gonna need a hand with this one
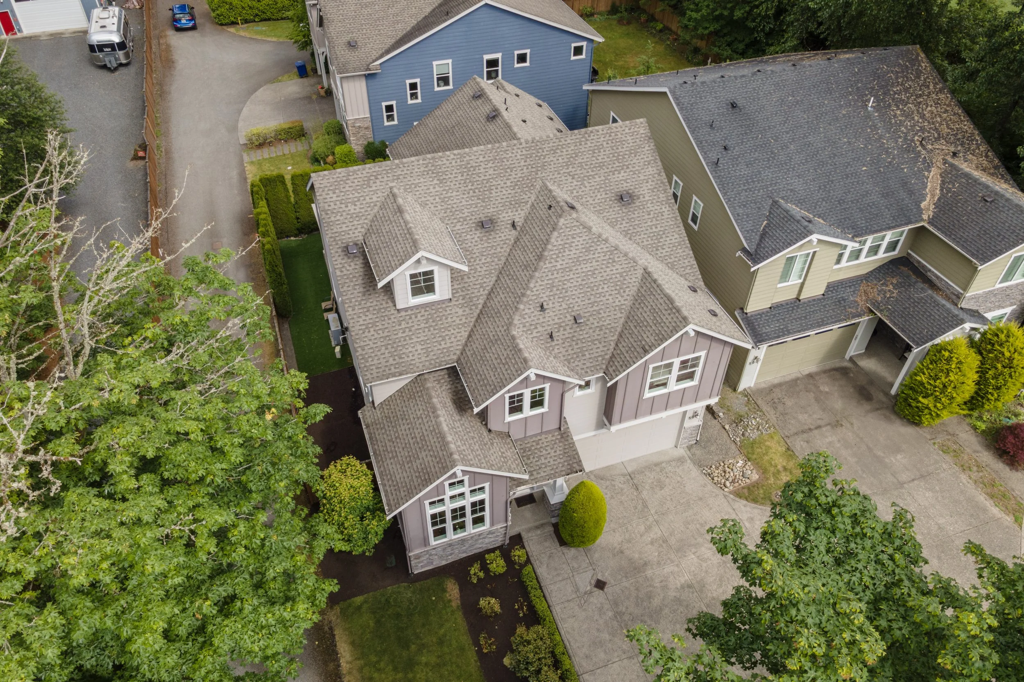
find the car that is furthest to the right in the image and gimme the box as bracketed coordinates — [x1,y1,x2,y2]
[168,1,196,29]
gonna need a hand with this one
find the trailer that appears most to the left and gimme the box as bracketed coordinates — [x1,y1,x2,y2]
[91,4,135,74]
